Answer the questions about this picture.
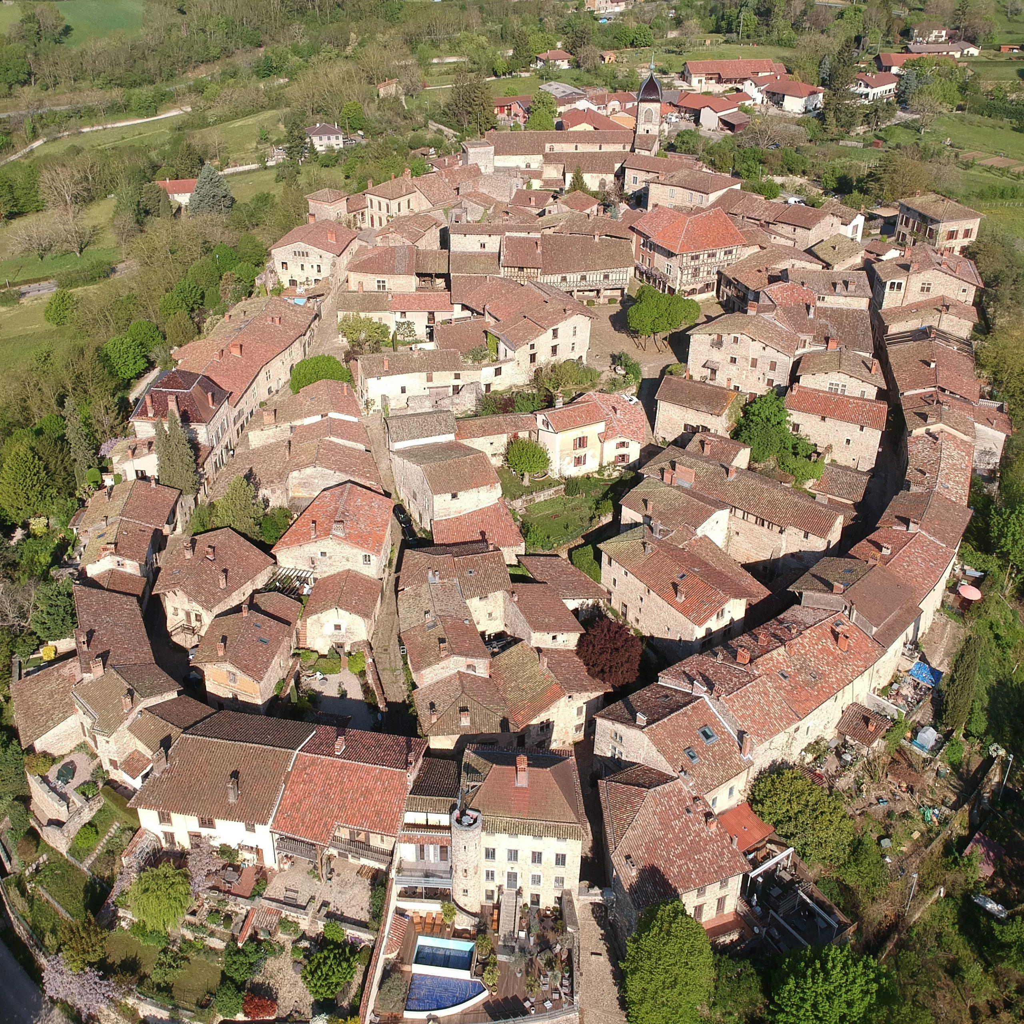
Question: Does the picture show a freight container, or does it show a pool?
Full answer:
There is a pool in the scene.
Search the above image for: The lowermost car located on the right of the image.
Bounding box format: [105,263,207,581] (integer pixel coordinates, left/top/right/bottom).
[617,390,643,402]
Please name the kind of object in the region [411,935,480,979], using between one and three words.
swimming pool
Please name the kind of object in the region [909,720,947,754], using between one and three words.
greenhouse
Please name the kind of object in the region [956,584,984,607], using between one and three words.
umbrella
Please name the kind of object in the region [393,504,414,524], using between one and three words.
car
